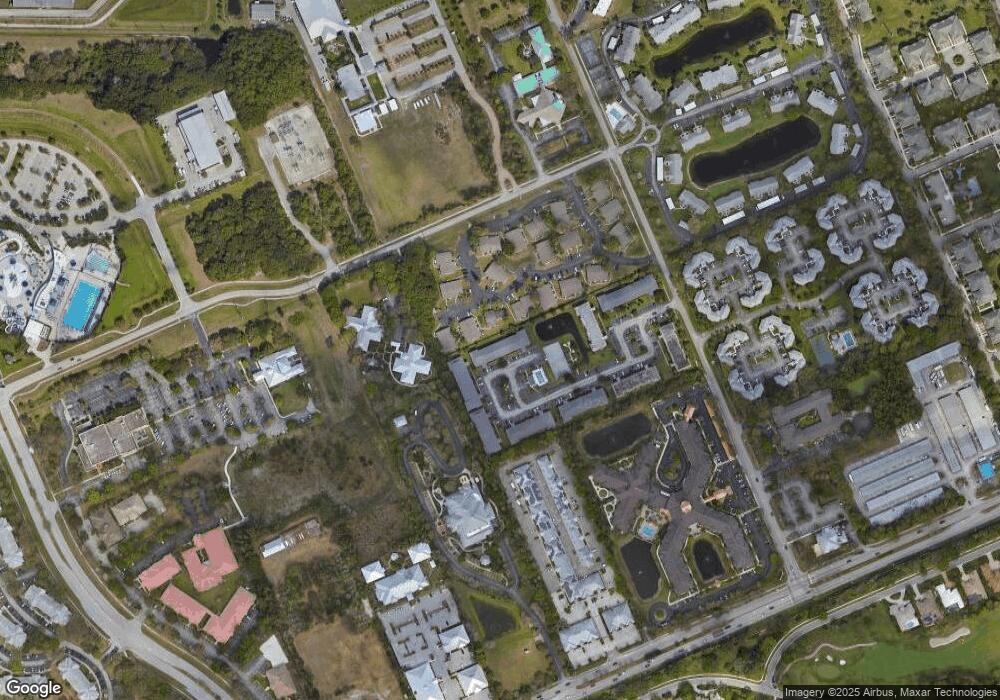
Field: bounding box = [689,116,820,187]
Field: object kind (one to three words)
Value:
pond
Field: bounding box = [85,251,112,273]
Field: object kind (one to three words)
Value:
swimming pool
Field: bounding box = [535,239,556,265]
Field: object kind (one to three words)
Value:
house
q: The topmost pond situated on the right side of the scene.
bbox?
[652,8,775,78]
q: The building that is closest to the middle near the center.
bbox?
[470,330,530,366]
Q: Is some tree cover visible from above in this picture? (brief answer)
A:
Yes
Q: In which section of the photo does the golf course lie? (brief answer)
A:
bottom right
